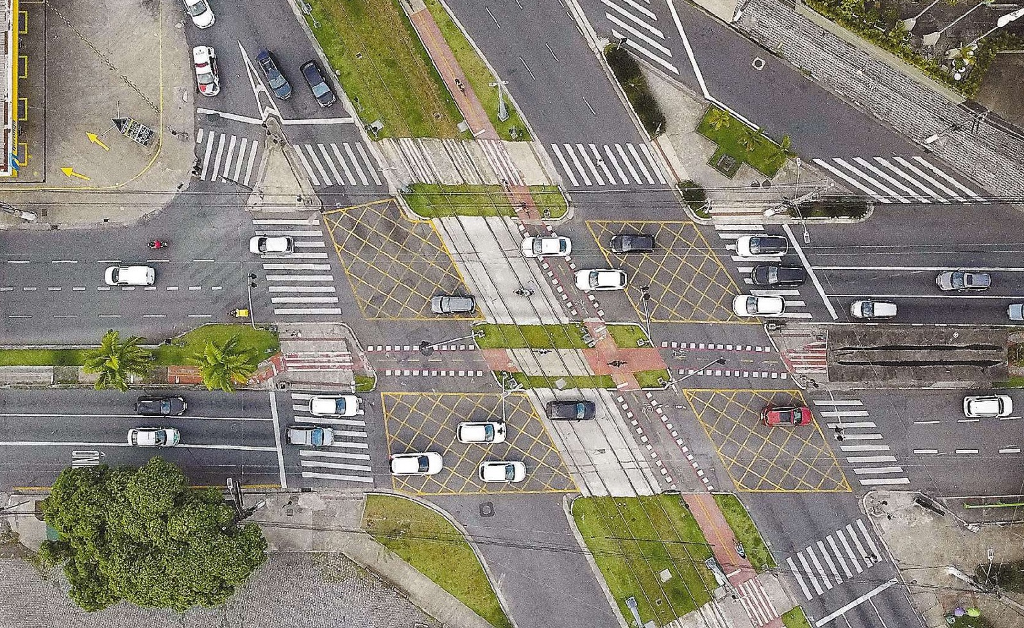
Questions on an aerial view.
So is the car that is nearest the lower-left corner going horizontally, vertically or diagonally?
horizontally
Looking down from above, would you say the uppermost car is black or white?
white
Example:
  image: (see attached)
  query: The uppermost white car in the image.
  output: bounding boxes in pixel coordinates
[186,0,217,31]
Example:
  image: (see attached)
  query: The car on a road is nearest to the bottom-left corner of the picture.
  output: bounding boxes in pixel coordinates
[127,427,181,449]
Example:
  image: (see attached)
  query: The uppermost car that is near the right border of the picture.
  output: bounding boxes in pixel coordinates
[934,268,993,292]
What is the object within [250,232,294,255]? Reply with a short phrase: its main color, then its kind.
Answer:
white car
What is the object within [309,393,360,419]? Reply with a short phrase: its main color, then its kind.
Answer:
white car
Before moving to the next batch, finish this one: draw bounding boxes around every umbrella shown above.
[957,602,980,618]
[943,601,964,618]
